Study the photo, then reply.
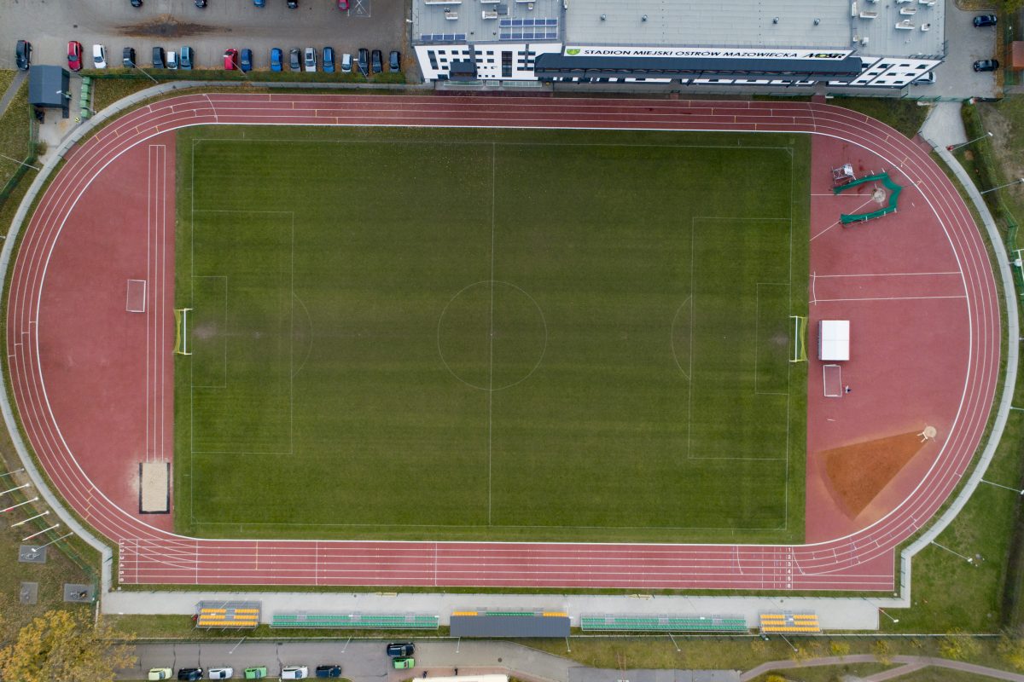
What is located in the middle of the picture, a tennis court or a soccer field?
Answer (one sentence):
It is a soccer field that can be seen in the middle of the picture.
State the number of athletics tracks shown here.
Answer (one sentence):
Just 1 athletics track appears in this view.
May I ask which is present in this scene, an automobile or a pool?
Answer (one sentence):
Of the two, only an automobile appears.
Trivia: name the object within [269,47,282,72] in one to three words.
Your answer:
vehicle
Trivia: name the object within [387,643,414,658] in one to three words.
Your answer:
car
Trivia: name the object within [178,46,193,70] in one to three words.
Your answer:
car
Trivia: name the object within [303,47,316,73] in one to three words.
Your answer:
vehicle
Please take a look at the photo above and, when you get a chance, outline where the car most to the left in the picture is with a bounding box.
[13,40,31,69]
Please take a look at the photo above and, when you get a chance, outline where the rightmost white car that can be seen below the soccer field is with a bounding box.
[282,667,307,681]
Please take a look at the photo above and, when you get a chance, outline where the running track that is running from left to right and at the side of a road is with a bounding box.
[7,93,1001,590]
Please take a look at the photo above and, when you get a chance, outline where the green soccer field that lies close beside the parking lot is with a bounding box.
[172,123,811,545]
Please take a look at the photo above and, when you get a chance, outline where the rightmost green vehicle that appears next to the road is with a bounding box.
[393,658,415,672]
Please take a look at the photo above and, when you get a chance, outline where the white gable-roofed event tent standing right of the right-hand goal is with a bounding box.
[812,321,850,360]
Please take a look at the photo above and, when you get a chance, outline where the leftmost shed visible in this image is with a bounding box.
[31,64,71,121]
